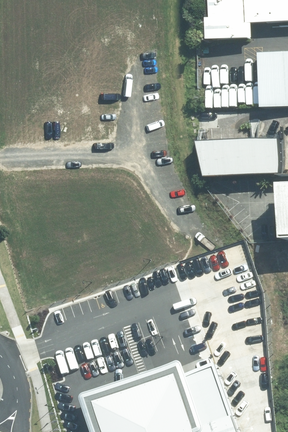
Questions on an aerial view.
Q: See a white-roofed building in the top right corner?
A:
Yes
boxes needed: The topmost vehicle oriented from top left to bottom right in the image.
[194,232,216,250]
